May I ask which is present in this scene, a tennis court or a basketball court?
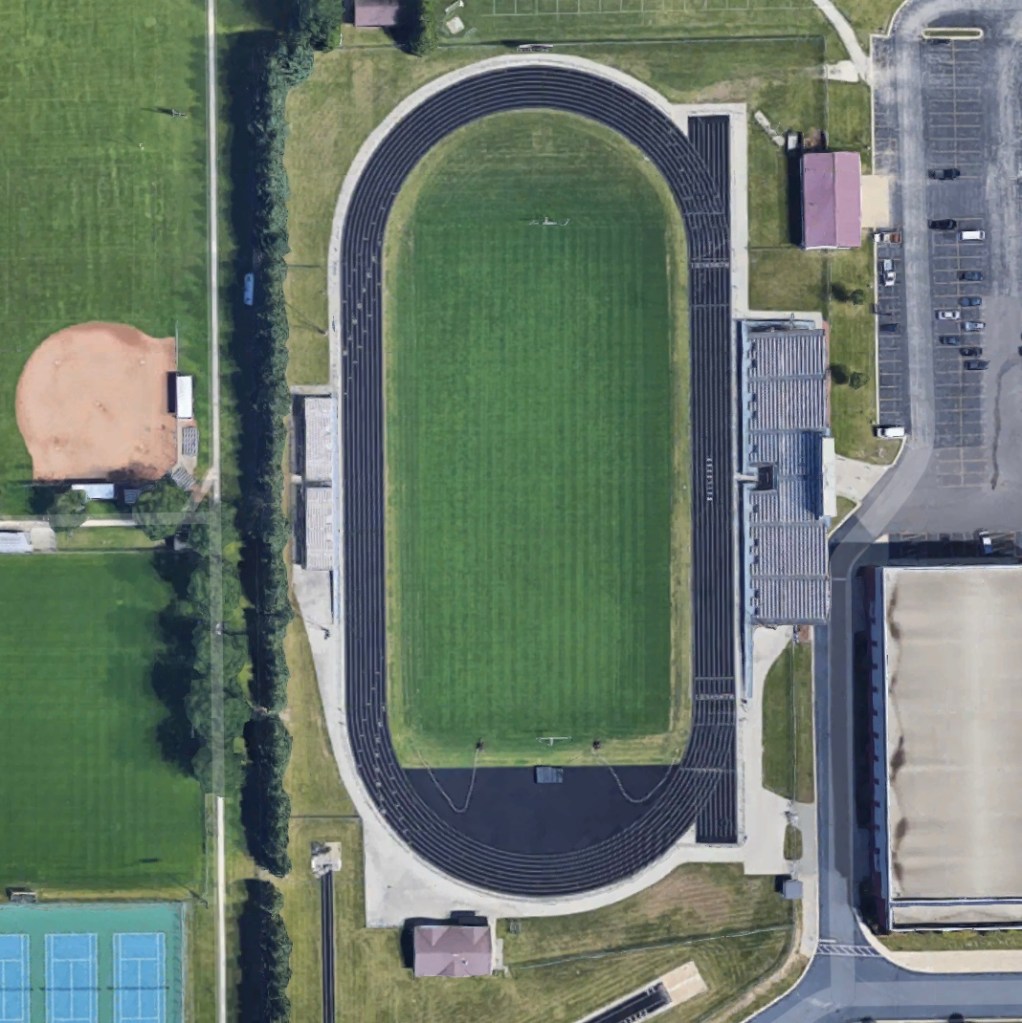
tennis court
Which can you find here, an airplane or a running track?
running track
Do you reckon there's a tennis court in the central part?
No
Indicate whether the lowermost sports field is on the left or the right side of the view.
left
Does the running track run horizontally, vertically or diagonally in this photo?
vertically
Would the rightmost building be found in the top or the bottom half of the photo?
bottom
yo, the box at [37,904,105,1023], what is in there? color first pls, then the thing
blue tennis court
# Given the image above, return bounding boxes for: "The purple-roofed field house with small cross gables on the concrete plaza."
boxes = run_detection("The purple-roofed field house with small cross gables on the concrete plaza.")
[414,913,493,979]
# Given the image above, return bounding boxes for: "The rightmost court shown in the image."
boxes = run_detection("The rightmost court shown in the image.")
[105,903,186,1023]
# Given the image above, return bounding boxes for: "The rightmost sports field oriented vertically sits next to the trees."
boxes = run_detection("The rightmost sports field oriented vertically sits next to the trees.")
[382,110,692,767]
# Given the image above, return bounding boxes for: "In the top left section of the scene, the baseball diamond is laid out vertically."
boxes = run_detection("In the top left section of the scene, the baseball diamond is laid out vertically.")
[0,0,211,517]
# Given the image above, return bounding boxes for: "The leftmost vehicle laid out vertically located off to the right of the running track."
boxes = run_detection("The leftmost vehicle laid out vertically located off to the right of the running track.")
[882,259,895,287]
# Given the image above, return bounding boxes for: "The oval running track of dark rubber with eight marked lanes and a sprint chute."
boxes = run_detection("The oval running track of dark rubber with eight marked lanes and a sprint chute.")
[340,68,737,895]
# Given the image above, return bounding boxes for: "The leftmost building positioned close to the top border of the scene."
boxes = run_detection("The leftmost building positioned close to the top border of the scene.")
[354,0,399,29]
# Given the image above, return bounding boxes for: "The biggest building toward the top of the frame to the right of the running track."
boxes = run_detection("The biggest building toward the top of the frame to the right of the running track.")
[802,151,861,248]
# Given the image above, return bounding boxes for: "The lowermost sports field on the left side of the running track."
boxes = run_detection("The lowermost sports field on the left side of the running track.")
[0,553,205,890]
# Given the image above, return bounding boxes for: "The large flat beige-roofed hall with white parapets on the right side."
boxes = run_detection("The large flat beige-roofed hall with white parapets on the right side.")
[865,563,1022,932]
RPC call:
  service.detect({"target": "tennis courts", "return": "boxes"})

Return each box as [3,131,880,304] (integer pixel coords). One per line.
[0,904,37,1023]
[37,904,105,1023]
[105,903,186,1023]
